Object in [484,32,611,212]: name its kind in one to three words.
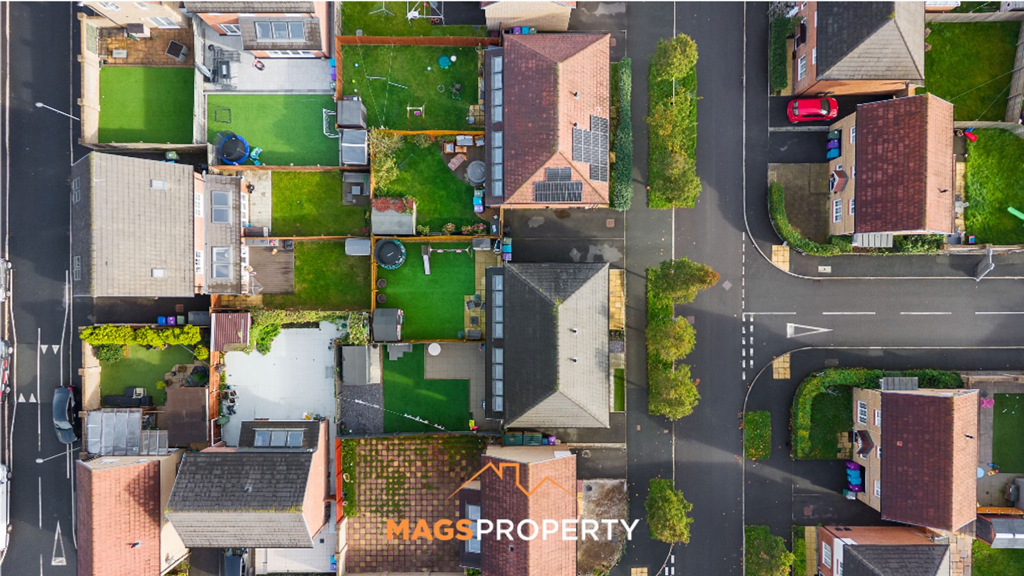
house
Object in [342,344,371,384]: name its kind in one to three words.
shed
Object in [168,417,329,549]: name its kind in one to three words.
house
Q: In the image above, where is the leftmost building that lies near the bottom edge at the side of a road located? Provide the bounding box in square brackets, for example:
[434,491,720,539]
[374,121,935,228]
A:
[75,447,189,576]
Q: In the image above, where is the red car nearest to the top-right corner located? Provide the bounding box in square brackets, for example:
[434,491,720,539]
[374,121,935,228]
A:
[784,96,837,124]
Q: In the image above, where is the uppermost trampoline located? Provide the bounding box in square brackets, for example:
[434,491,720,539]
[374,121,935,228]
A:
[211,127,252,165]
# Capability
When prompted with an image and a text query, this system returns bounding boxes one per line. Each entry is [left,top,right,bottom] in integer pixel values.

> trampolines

[374,237,408,269]
[211,127,252,165]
